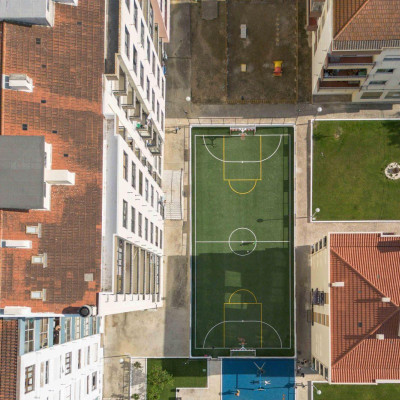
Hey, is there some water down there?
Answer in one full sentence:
No, there's no water in this view.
